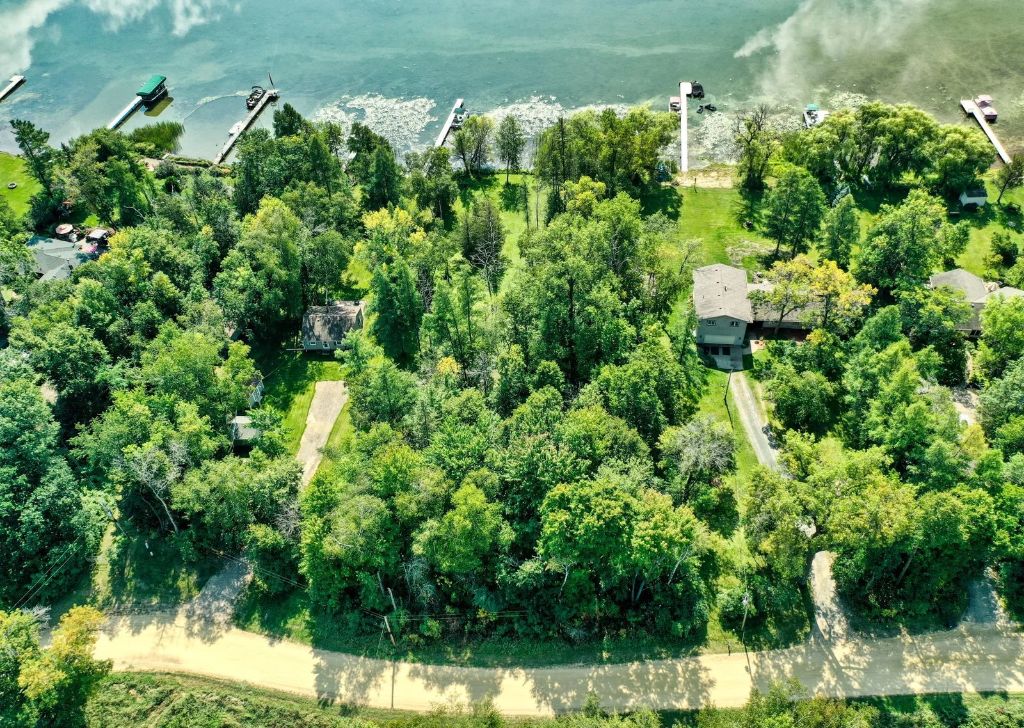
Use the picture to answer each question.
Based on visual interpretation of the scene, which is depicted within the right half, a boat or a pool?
boat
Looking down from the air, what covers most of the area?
trees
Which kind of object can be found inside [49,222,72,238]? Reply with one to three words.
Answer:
umbrella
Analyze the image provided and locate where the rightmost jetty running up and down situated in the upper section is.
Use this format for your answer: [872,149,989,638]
[678,80,692,174]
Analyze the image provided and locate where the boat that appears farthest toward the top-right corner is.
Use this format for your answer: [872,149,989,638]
[976,92,1000,123]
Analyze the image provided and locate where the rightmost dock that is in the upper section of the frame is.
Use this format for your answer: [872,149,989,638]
[961,100,1013,164]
